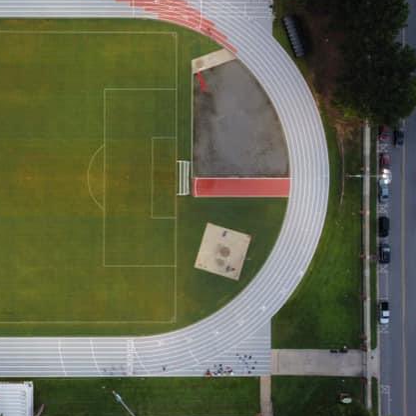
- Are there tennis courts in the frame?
No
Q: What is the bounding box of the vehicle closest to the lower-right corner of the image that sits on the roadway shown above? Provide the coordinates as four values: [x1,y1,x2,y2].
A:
[379,300,392,324]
